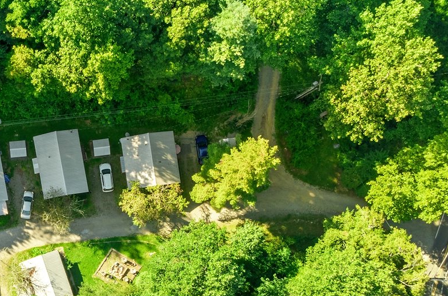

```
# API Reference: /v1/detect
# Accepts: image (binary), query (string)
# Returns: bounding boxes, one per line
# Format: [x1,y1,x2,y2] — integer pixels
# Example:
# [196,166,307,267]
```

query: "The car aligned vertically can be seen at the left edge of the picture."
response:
[20,191,34,220]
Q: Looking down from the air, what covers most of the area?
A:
trees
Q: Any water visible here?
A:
No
